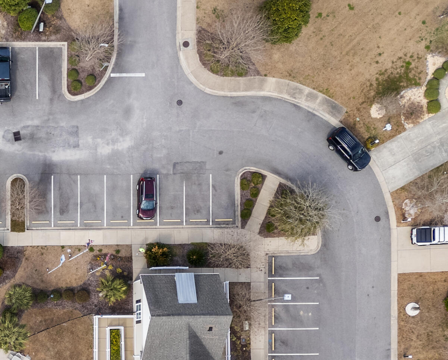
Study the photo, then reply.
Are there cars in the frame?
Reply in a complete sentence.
Yes, a car is visible in the scene.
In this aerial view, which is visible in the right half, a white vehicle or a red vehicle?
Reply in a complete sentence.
Looking in the right half, you will find a white vehicle.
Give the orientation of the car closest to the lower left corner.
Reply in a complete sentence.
What the image shows is the car closest to the lower left corner lying from top to bottom.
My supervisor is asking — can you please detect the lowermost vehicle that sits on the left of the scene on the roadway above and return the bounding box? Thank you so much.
[136,177,159,222]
